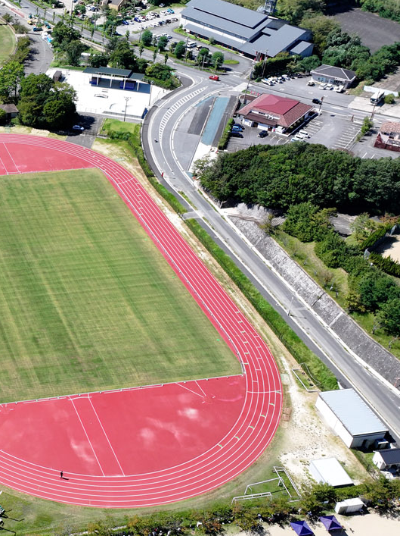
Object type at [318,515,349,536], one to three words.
tent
